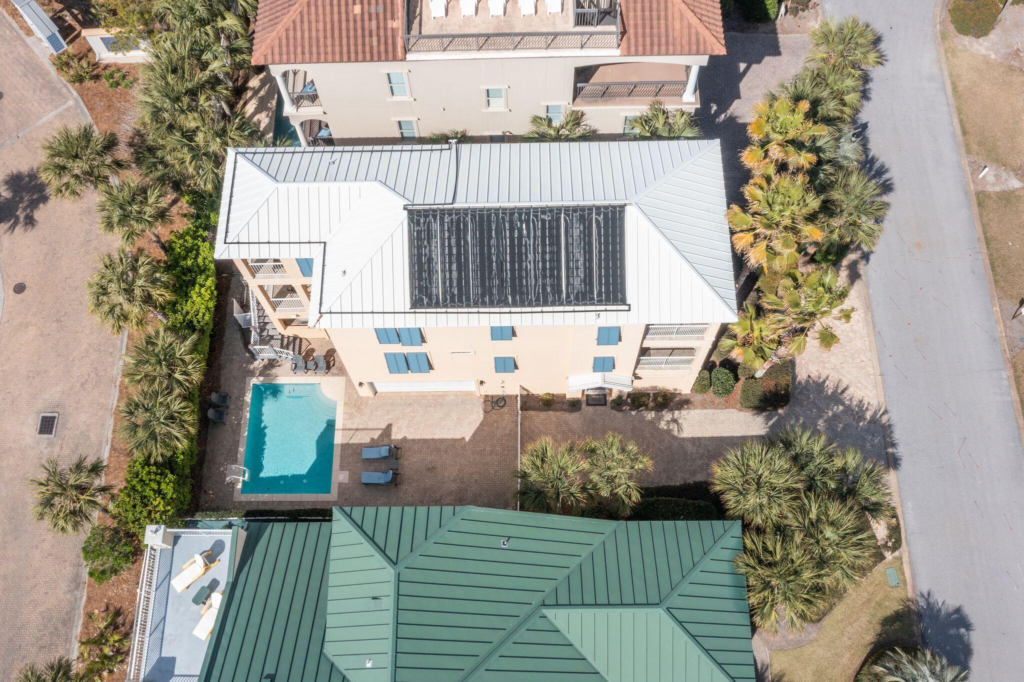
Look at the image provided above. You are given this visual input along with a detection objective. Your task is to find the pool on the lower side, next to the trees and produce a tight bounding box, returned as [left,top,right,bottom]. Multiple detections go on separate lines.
[225,376,350,501]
